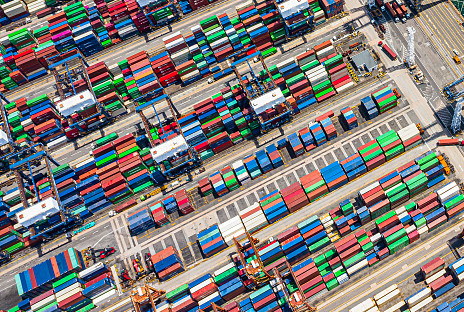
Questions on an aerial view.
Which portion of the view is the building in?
top right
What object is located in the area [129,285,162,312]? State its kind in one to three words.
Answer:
container crane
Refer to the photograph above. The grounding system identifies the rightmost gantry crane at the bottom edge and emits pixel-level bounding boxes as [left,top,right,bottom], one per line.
[273,262,314,312]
